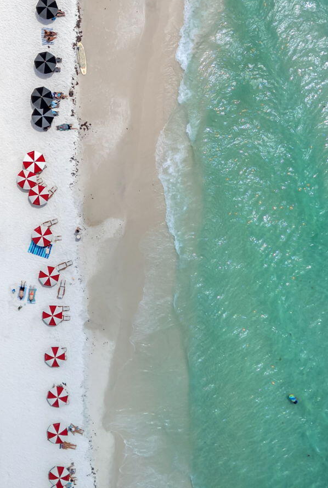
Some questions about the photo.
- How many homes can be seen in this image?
none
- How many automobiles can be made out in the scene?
0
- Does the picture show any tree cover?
No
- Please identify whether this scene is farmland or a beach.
beach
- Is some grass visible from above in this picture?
No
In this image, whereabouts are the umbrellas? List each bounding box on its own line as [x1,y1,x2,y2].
[34,53,57,76]
[48,385,69,406]
[32,109,55,130]
[31,87,54,110]
[46,347,66,367]
[38,266,59,287]
[35,0,59,21]
[47,421,68,442]
[49,466,70,487]
[23,152,45,174]
[29,184,50,206]
[18,170,37,190]
[32,225,53,246]
[43,304,64,324]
